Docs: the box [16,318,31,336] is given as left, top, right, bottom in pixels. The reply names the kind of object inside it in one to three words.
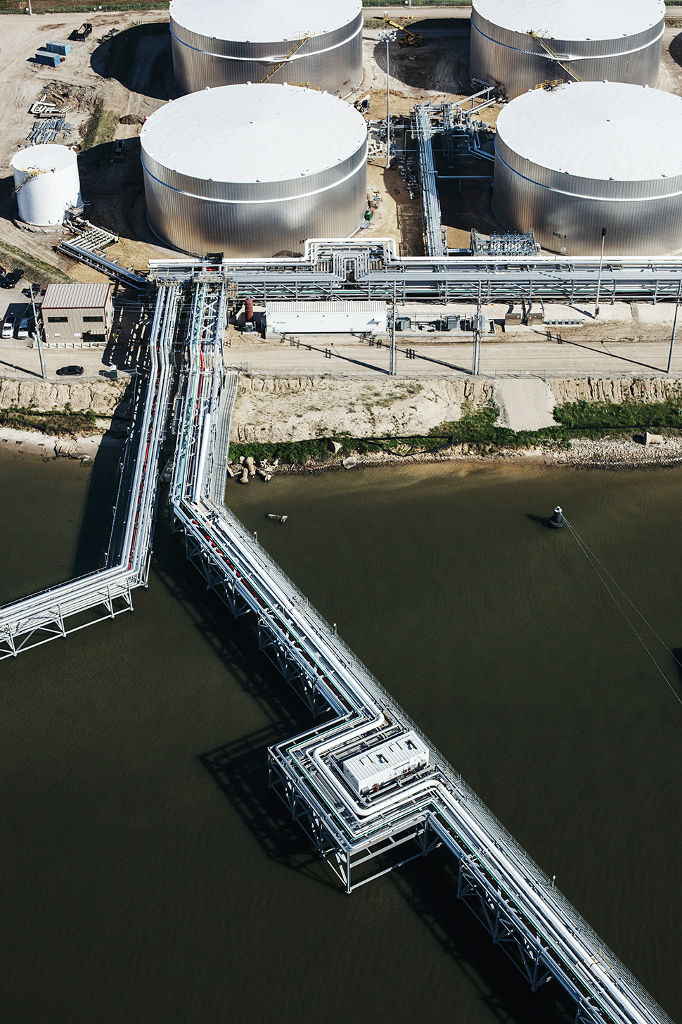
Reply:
car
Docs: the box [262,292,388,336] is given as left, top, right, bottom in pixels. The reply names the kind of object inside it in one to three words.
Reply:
building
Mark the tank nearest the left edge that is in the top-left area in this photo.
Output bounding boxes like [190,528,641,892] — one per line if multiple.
[8,138,86,229]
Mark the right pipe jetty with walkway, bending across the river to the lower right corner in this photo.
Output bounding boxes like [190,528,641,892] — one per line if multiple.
[168,267,679,1024]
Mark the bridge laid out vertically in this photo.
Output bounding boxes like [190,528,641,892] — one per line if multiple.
[165,293,187,458]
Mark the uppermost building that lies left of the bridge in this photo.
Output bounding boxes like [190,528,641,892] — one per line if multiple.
[37,277,114,343]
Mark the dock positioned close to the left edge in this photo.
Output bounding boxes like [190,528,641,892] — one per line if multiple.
[0,268,189,662]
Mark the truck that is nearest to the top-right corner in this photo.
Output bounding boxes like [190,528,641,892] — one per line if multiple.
[351,91,374,112]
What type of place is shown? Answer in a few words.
industrial area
